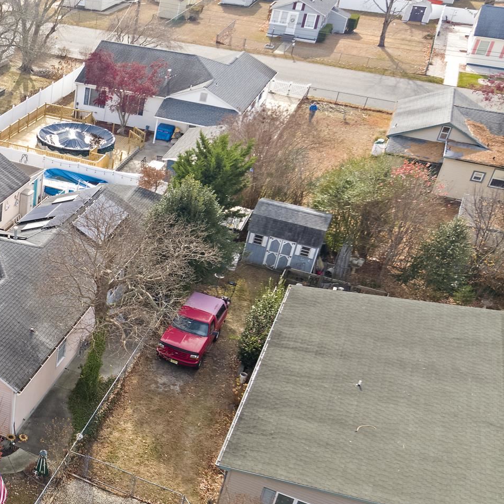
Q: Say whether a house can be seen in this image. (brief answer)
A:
Yes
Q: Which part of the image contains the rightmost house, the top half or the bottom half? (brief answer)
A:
top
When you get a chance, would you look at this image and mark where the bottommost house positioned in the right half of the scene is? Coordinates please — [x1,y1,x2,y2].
[208,283,504,504]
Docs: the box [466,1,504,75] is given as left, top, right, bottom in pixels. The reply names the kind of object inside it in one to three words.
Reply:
house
